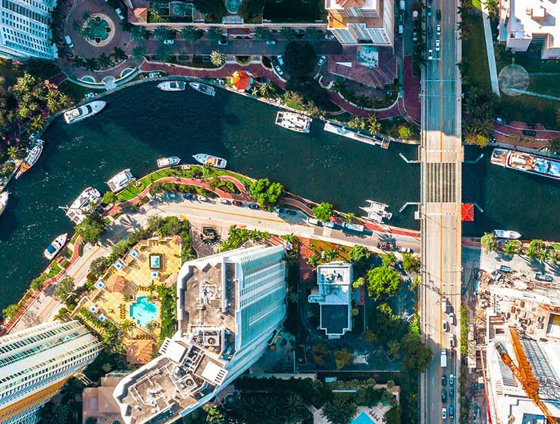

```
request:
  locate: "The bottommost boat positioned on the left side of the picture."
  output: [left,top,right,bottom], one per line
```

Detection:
[43,233,69,259]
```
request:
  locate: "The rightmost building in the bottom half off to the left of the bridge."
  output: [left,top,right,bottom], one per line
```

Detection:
[302,262,356,341]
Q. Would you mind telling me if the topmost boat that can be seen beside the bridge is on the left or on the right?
right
